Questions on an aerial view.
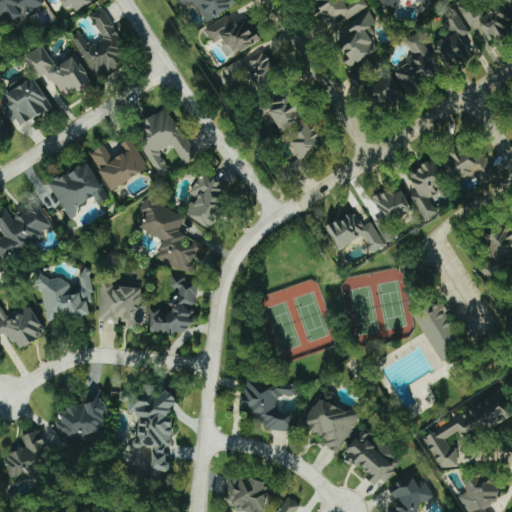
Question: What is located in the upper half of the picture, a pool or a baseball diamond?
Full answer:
Looking in the upper half of the picture, you will find a pool.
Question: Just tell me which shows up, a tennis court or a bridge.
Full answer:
There is a tennis court in the scene.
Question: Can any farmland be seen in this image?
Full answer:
No, there is no farmland in the image.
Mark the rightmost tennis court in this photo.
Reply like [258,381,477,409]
[374,270,413,340]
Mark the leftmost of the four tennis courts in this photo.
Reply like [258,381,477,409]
[266,290,312,358]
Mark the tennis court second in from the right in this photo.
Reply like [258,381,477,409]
[344,274,386,344]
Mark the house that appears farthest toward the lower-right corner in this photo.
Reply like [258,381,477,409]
[460,480,499,512]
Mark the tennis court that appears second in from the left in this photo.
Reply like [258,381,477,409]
[290,280,335,350]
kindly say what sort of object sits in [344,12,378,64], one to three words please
house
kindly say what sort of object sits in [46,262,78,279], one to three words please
swimming pool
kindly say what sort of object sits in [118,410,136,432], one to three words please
swimming pool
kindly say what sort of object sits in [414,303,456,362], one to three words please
building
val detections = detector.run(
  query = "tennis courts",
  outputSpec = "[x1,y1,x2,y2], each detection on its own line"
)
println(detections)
[374,270,413,340]
[266,290,312,358]
[344,274,386,344]
[290,280,335,350]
